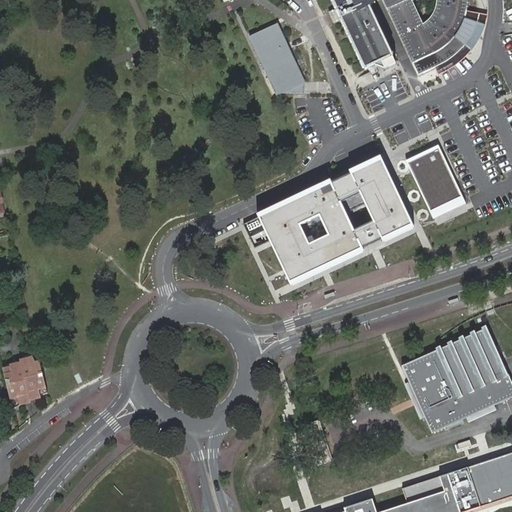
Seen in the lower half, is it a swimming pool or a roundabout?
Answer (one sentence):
The one visible in the lower half is a roundabout.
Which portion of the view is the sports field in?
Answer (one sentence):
The sports field sits in the bottom left section of the image.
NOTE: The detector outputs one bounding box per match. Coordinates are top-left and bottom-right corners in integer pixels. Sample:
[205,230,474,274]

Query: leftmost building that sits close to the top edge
[250,22,305,96]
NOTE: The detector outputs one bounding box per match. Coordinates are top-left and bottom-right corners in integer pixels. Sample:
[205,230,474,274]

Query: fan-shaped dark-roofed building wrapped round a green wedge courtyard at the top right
[378,0,487,79]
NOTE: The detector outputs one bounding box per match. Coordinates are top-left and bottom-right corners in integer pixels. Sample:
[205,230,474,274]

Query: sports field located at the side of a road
[67,450,188,512]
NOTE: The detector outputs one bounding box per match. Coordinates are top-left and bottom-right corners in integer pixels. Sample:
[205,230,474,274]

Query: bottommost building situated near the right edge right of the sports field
[384,453,512,512]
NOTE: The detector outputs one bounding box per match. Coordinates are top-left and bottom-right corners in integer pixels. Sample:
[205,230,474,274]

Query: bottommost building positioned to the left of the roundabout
[2,356,47,404]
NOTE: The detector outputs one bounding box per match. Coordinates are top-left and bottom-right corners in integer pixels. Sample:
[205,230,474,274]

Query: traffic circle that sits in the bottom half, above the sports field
[120,296,283,439]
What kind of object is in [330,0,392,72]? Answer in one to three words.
building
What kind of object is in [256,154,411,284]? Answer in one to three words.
building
